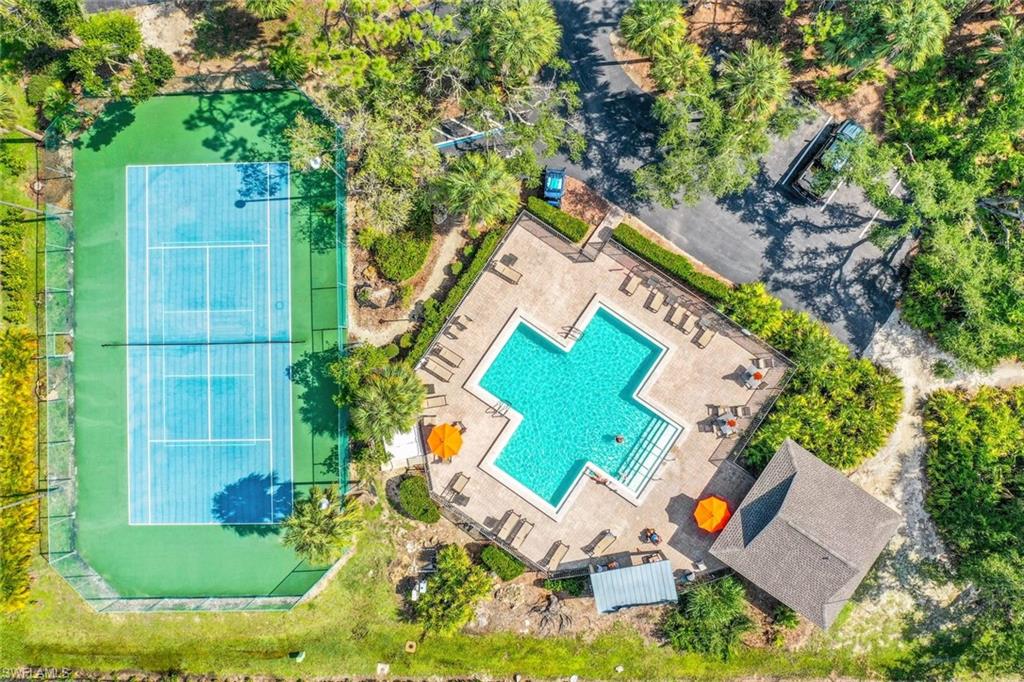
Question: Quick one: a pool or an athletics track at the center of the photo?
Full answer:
What appears at the center of the photo is a pool.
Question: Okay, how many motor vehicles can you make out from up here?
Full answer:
Altogether the scene contains 2 motor vehicles.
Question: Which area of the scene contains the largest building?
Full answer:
The largest building appears toward the bottom right of the photo.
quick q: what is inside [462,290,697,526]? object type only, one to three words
swimming pool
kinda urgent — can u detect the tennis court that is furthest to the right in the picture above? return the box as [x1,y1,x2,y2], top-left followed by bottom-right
[74,94,347,596]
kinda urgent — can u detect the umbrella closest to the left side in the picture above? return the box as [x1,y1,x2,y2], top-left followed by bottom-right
[429,423,463,457]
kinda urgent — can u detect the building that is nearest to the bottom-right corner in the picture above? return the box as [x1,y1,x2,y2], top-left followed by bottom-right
[708,438,903,632]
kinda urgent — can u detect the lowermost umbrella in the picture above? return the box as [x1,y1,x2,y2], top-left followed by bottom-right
[693,495,730,532]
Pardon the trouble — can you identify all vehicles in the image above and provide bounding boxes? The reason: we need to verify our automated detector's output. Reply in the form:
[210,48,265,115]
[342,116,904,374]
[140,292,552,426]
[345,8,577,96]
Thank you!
[544,167,567,207]
[791,122,861,206]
